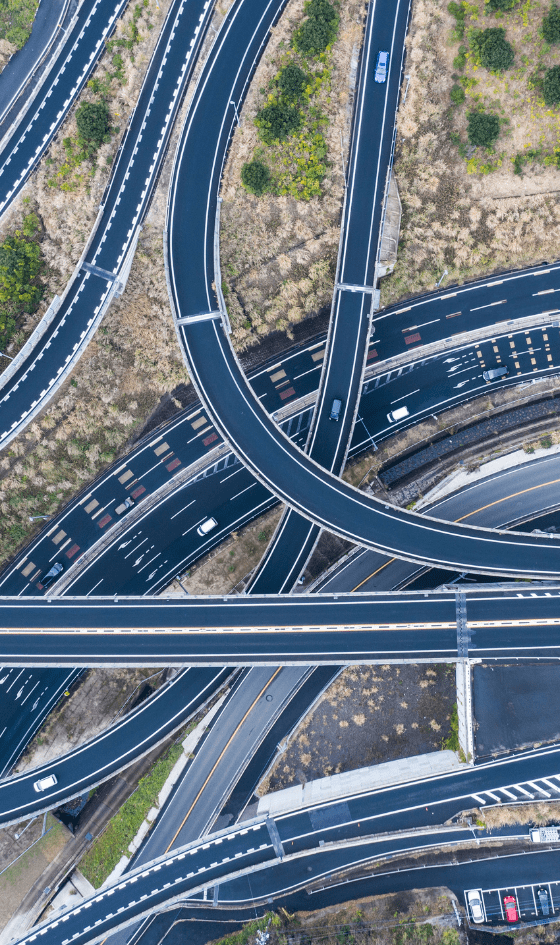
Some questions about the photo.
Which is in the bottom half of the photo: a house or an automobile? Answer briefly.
automobile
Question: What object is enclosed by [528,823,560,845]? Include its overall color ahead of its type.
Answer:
white truck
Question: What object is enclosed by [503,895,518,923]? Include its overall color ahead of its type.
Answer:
red car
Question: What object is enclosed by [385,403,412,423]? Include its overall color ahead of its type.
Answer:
white vehicle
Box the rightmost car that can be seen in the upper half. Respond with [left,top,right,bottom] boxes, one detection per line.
[482,365,509,383]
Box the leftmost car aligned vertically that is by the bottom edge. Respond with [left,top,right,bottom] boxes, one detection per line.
[467,888,483,924]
